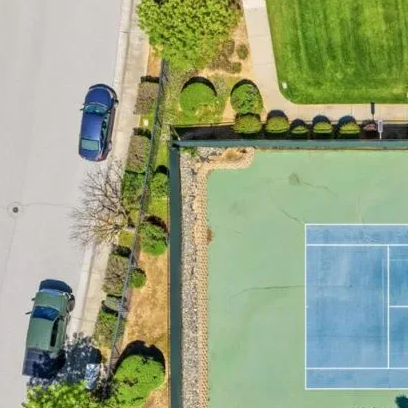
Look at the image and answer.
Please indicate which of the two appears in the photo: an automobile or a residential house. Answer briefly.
automobile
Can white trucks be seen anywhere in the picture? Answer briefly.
No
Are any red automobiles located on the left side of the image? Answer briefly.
No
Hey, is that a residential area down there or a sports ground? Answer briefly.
sports ground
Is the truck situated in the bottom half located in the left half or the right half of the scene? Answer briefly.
left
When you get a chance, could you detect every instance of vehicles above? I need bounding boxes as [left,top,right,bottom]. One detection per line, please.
[25,285,75,383]
[78,87,118,163]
